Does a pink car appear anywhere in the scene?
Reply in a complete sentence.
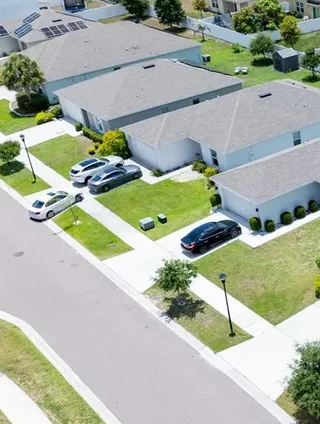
No, the scene contains no pink car.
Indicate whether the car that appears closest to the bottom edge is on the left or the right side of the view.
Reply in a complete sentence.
The car that appears closest to the bottom edge sits on the right side.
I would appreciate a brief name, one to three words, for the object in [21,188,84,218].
car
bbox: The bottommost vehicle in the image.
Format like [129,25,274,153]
[176,220,243,251]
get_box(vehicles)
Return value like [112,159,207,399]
[176,220,243,251]
[64,156,122,182]
[21,188,84,218]
[83,163,142,189]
